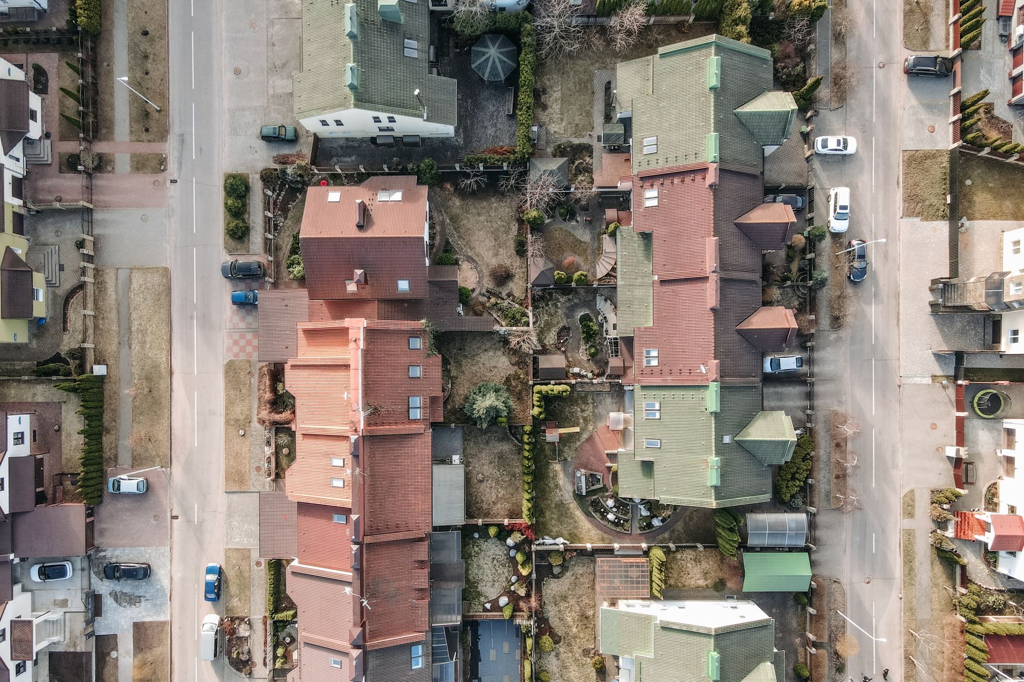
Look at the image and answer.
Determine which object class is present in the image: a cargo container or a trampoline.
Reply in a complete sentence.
It is a trampoline that can be seen here.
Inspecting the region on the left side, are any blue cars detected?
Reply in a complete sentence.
Yes, you'll find a blue car on the left side.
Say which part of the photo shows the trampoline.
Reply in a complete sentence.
The trampoline sits in the right section of the image.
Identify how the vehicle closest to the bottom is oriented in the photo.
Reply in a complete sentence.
From this overhead view, the vehicle closest to the bottom appears to run vertically.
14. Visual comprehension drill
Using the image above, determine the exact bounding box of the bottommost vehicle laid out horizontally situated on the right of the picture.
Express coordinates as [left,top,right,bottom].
[761,354,803,373]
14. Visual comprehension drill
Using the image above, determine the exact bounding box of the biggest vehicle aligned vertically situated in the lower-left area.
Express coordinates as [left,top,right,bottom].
[199,612,223,664]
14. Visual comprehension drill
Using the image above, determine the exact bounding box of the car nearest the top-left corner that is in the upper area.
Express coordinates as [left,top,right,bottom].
[259,123,300,143]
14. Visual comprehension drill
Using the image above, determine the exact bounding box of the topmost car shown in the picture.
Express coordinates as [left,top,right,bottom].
[903,54,951,77]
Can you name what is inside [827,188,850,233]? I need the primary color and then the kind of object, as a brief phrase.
white car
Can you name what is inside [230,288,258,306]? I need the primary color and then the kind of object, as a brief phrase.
blue car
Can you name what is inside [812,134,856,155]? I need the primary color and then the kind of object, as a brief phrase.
white car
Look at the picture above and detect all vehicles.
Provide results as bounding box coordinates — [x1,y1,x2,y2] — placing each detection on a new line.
[222,259,267,280]
[203,562,223,602]
[199,612,223,664]
[259,123,300,143]
[827,188,850,233]
[812,134,856,155]
[903,54,951,77]
[230,288,258,306]
[846,238,868,282]
[106,560,153,582]
[762,192,806,212]
[109,476,150,495]
[761,354,803,373]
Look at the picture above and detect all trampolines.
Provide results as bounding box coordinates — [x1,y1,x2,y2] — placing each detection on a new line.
[974,388,1018,421]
